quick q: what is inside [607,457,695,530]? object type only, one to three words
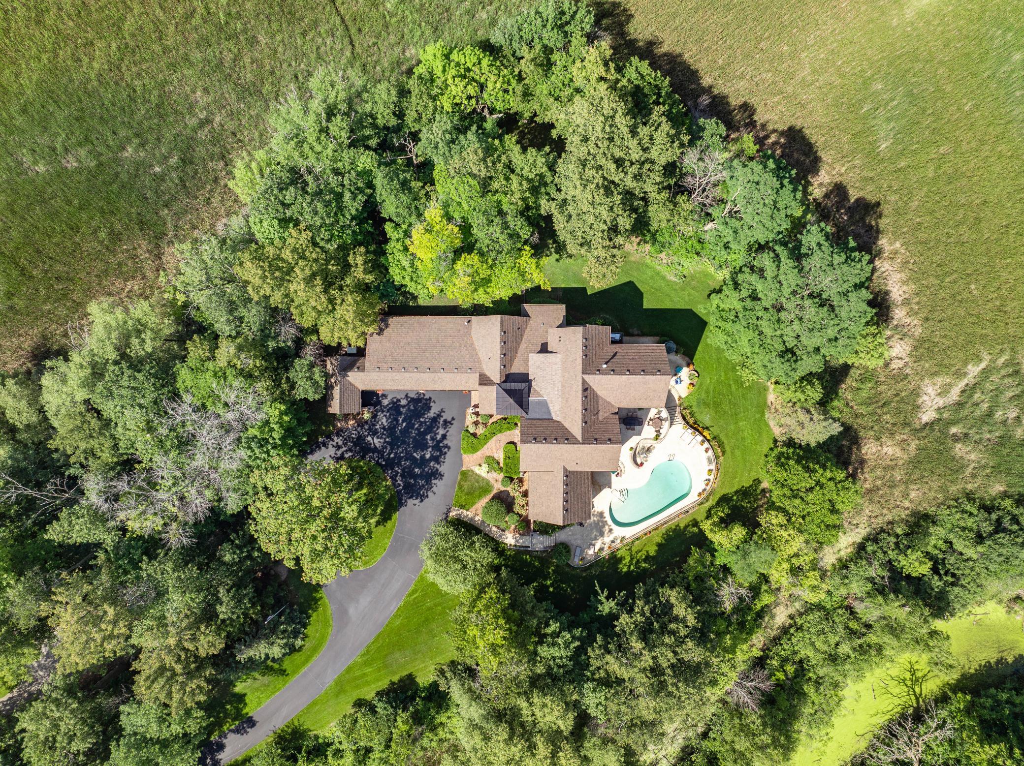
swimming pool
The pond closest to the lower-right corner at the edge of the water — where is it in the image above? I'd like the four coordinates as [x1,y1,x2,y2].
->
[798,591,1024,766]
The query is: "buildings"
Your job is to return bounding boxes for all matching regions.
[326,304,672,526]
